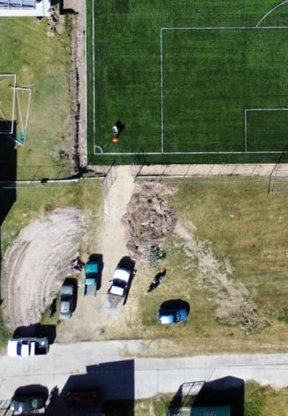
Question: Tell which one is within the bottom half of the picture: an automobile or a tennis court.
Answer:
automobile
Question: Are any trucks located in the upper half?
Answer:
No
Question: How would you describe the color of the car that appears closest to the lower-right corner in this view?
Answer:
blue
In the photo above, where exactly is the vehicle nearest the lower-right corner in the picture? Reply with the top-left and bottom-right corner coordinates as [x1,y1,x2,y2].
[156,304,188,324]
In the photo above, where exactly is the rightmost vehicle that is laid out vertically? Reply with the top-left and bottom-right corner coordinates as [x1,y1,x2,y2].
[105,267,129,315]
